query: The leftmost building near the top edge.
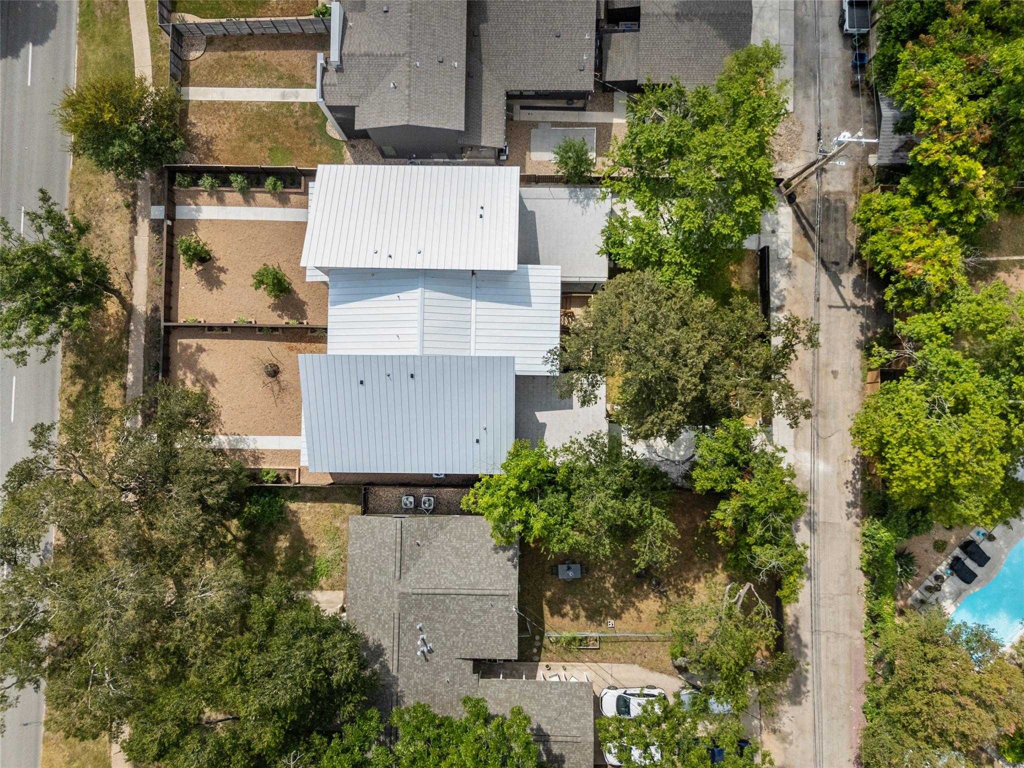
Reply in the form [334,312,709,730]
[316,0,596,159]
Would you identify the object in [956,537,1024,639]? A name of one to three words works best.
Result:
swimming pool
